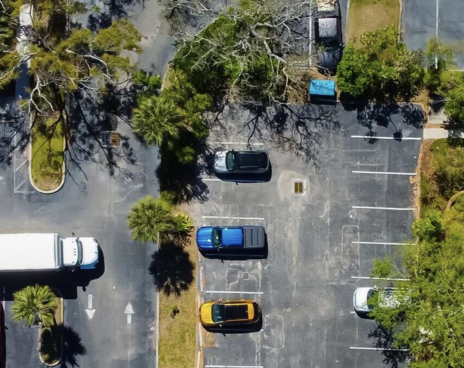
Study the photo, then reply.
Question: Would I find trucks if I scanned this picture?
Yes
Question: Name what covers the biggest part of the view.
paved ground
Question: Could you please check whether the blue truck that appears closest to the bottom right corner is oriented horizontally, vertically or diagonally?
horizontally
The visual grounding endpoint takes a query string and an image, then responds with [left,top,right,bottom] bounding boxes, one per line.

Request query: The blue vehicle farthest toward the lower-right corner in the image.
[197,226,267,260]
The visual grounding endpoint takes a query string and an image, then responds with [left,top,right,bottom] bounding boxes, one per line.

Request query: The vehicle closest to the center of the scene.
[214,149,273,182]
